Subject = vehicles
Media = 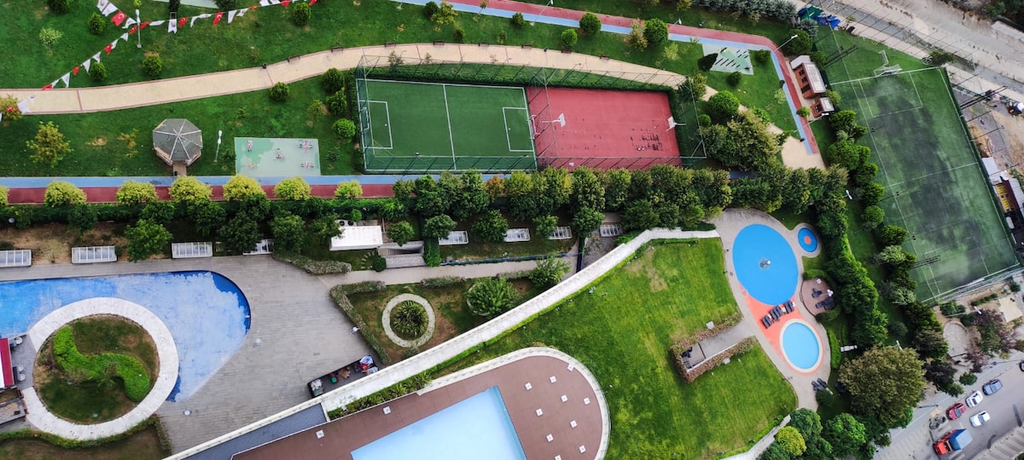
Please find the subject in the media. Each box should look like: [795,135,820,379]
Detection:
[964,391,985,408]
[982,380,1002,396]
[945,404,968,420]
[969,412,991,427]
[937,431,977,455]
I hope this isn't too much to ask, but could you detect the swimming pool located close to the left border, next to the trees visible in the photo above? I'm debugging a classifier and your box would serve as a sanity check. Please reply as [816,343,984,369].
[0,271,251,403]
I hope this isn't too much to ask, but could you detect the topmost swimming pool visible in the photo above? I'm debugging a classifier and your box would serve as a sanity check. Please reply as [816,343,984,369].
[797,224,820,254]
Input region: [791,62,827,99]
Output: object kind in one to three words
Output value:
shed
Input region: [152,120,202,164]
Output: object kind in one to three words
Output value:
gazebo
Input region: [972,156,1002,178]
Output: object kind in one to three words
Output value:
shed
